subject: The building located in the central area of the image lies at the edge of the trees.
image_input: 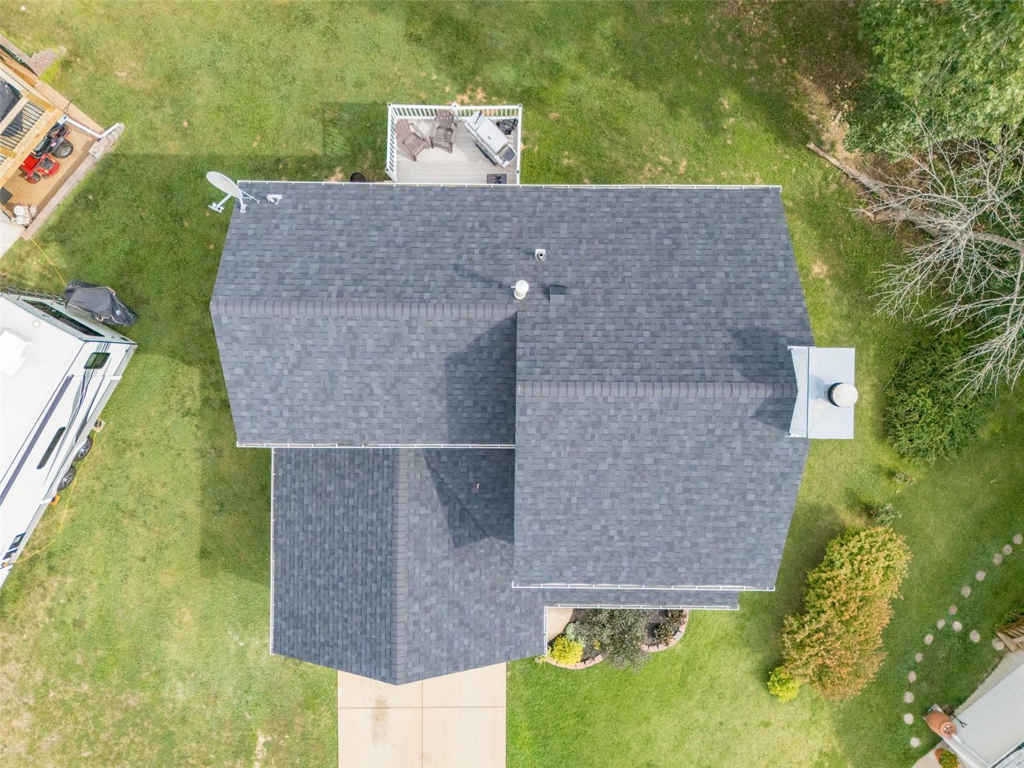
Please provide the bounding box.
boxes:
[212,182,860,684]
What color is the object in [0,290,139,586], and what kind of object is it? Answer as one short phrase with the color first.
white trailer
